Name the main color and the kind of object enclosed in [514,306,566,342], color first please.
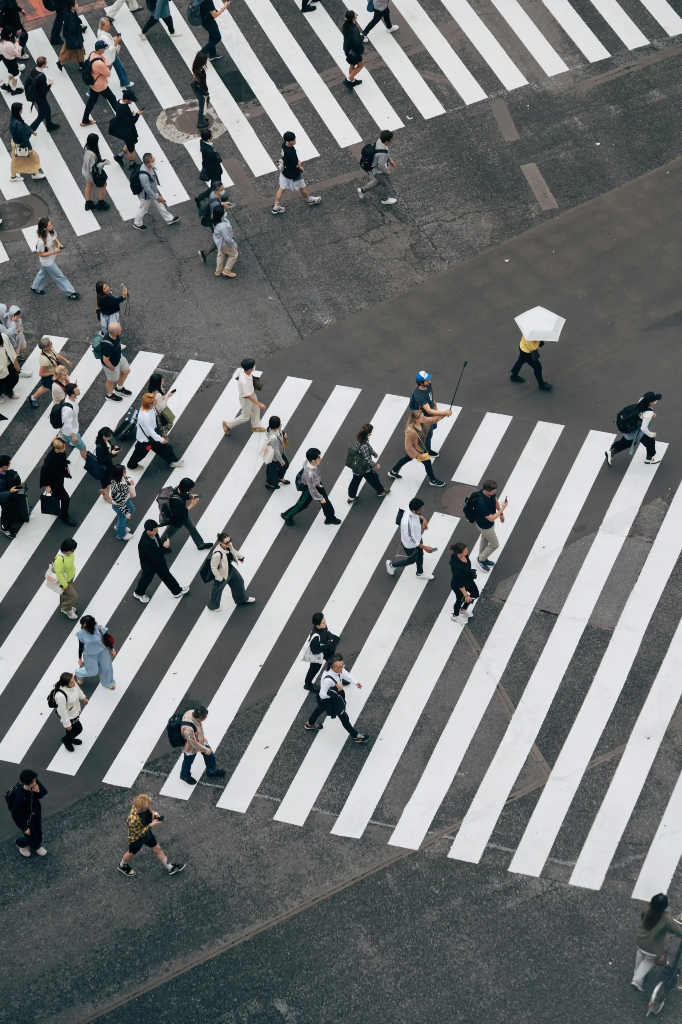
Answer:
white umbrella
